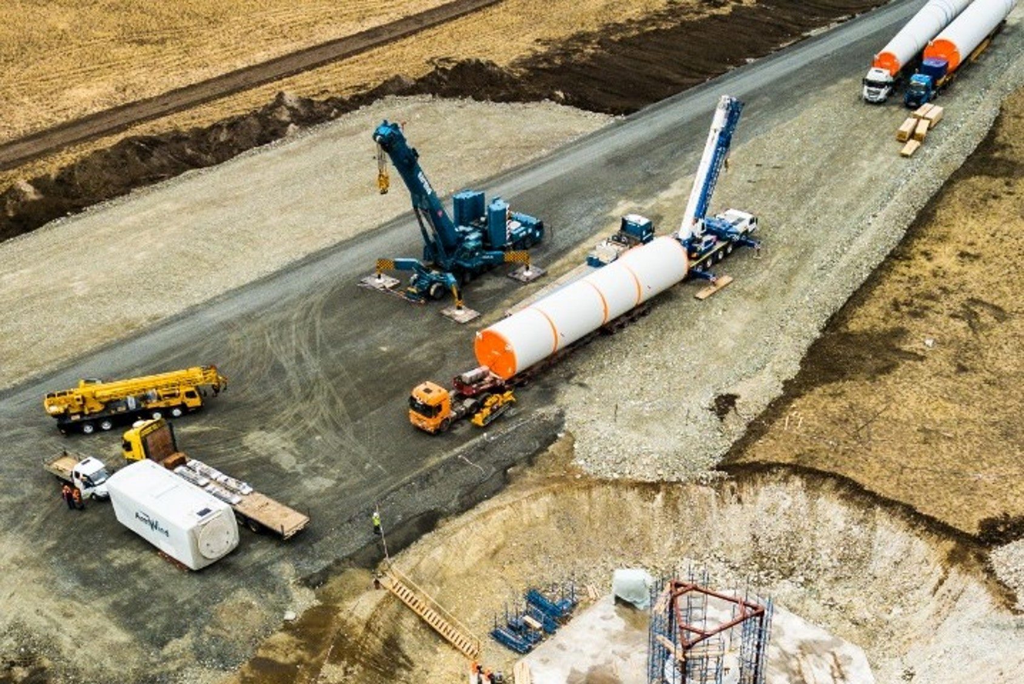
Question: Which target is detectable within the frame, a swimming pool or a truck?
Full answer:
The image shows a truck.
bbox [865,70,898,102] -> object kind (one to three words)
truck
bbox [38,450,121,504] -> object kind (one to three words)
van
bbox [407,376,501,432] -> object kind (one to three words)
truck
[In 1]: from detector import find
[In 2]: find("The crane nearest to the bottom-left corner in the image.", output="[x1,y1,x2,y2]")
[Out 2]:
[48,361,227,434]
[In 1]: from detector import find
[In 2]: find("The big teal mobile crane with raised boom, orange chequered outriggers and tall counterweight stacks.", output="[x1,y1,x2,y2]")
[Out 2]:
[373,123,540,314]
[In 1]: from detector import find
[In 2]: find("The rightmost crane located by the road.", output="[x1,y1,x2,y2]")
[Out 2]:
[677,95,760,284]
